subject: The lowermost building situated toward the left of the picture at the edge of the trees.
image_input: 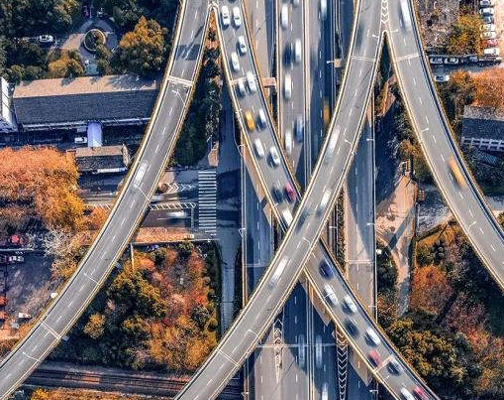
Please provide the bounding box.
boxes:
[75,144,129,176]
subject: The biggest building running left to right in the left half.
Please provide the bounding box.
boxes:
[14,74,161,136]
